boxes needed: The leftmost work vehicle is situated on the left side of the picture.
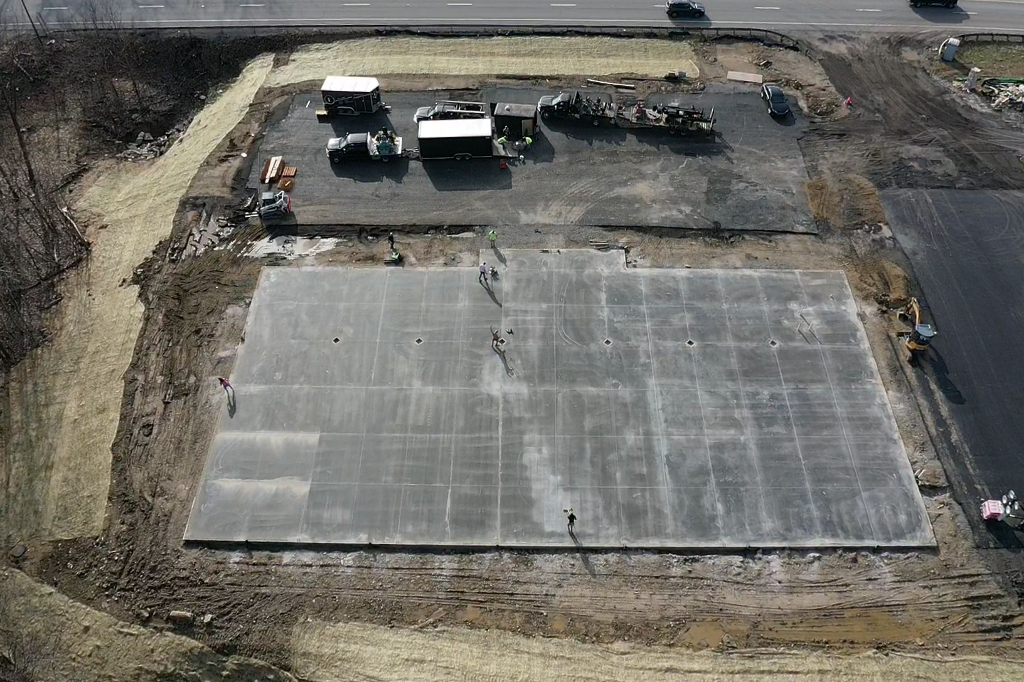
[246,192,288,222]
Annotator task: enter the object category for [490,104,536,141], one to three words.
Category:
trailer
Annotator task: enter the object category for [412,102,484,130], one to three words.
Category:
truck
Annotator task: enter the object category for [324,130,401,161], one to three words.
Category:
truck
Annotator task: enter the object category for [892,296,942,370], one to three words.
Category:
work vehicle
